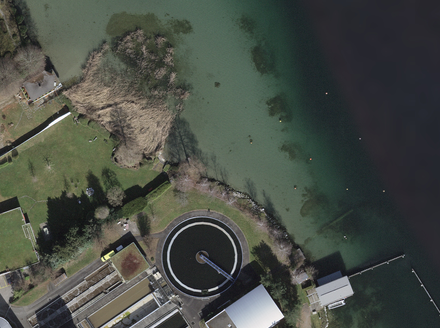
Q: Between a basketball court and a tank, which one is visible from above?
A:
tank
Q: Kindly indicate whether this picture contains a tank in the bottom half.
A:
Yes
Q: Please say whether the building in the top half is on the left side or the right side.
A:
left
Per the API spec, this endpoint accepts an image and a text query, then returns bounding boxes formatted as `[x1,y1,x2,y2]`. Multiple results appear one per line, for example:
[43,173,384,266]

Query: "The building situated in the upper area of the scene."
[22,72,62,102]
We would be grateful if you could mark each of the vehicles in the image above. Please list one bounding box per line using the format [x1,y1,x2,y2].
[102,250,116,262]
[5,274,12,286]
